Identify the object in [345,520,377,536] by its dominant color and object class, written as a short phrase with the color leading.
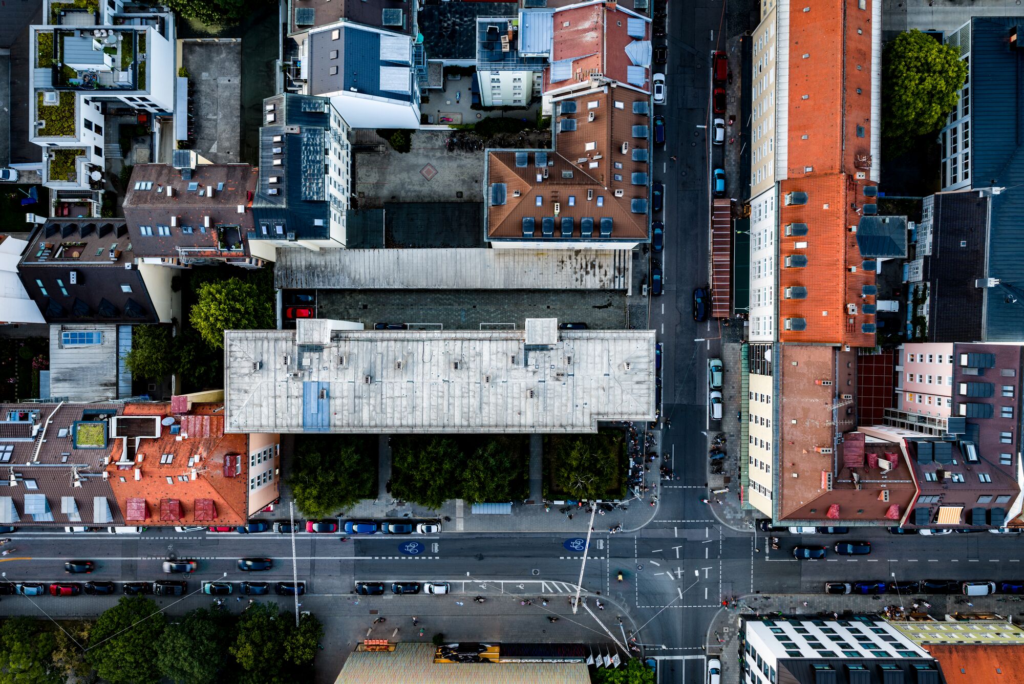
blue car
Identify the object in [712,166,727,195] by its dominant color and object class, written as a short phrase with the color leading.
blue car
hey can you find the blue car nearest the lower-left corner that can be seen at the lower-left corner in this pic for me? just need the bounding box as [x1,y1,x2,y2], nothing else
[19,582,45,597]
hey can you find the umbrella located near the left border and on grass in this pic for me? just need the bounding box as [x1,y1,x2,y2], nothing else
[23,188,41,207]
